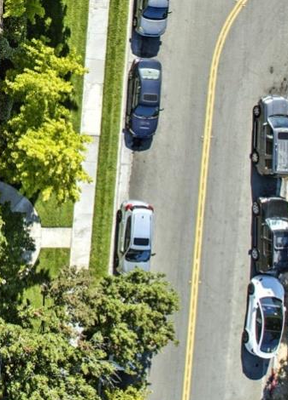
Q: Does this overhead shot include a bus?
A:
No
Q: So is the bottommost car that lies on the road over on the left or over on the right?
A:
right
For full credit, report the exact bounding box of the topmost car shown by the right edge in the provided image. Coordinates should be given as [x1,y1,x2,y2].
[246,96,288,175]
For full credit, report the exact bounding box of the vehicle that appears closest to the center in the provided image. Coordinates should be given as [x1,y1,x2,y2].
[112,199,152,269]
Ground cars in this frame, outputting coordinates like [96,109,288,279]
[122,57,163,137]
[236,274,281,356]
[130,0,170,38]
[112,199,152,269]
[246,96,288,175]
[244,195,288,269]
